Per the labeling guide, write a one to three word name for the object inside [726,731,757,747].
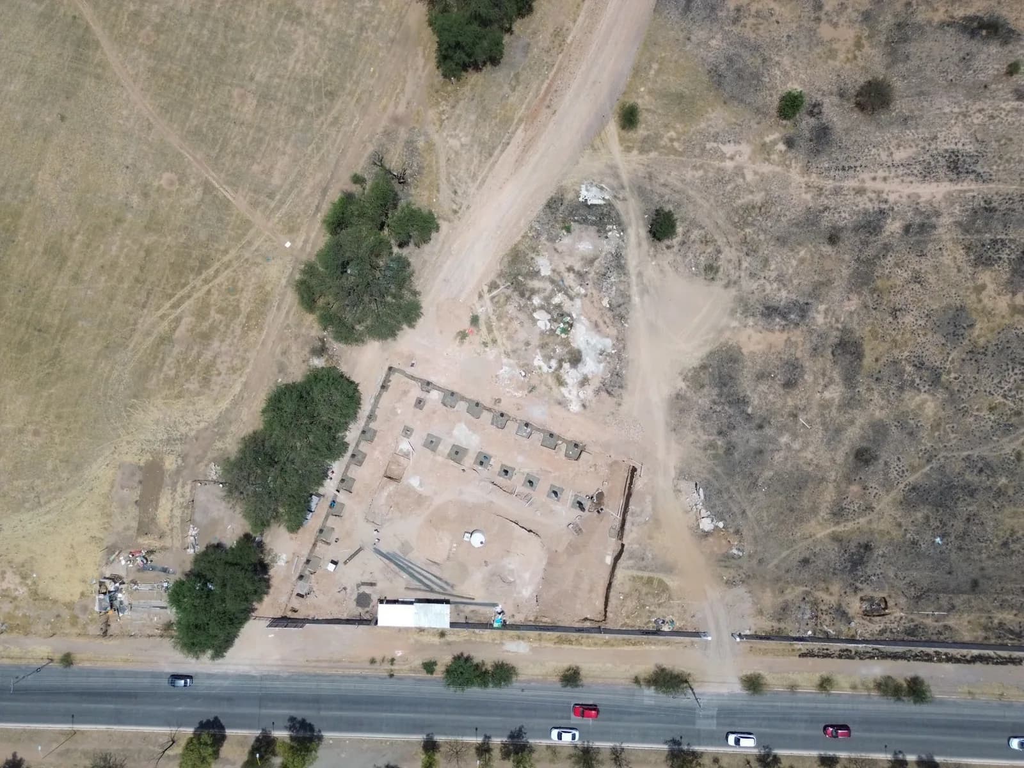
car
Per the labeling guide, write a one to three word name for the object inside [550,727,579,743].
car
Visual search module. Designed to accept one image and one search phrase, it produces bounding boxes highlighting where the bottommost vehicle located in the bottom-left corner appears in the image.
[167,673,192,688]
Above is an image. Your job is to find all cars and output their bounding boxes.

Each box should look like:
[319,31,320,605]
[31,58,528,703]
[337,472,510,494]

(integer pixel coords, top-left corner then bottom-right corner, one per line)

[824,723,852,738]
[726,731,757,747]
[1009,734,1024,750]
[550,727,579,743]
[573,704,600,719]
[167,673,192,688]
